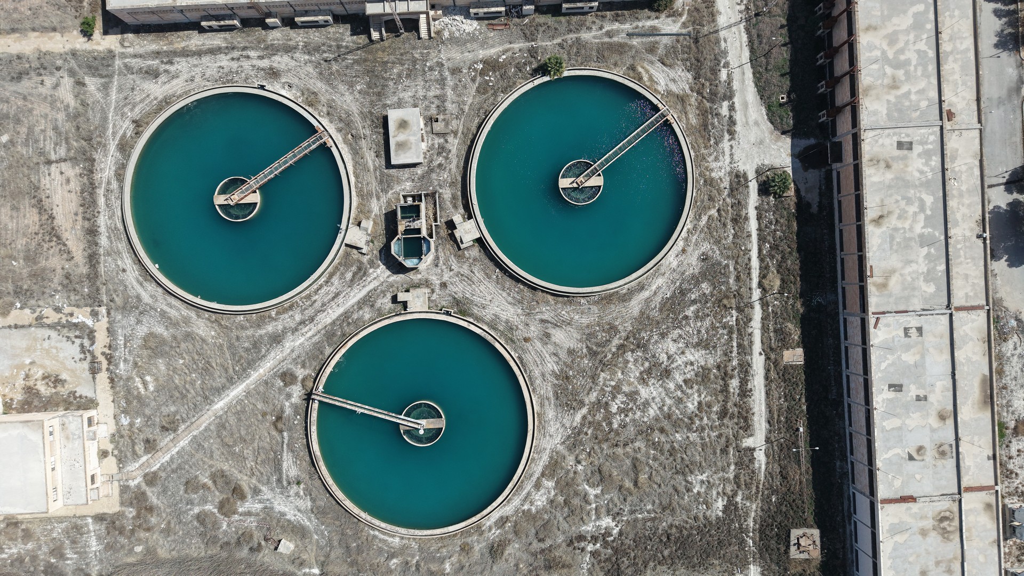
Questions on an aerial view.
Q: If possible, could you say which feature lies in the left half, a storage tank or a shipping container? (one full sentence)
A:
What appears in the left half is a storage tank.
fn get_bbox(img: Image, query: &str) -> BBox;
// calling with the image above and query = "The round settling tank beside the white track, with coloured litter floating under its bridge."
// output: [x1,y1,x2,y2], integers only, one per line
[465,66,697,298]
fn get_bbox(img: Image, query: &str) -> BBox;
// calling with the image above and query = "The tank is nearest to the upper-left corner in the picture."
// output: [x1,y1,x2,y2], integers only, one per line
[121,77,357,316]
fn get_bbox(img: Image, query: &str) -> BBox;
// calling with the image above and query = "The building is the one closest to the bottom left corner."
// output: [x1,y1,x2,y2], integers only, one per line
[0,410,113,515]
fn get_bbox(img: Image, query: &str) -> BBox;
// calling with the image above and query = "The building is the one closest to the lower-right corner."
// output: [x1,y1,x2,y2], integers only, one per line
[826,0,1004,576]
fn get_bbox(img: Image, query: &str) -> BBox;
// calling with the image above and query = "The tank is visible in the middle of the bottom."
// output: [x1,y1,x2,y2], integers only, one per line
[307,302,538,539]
